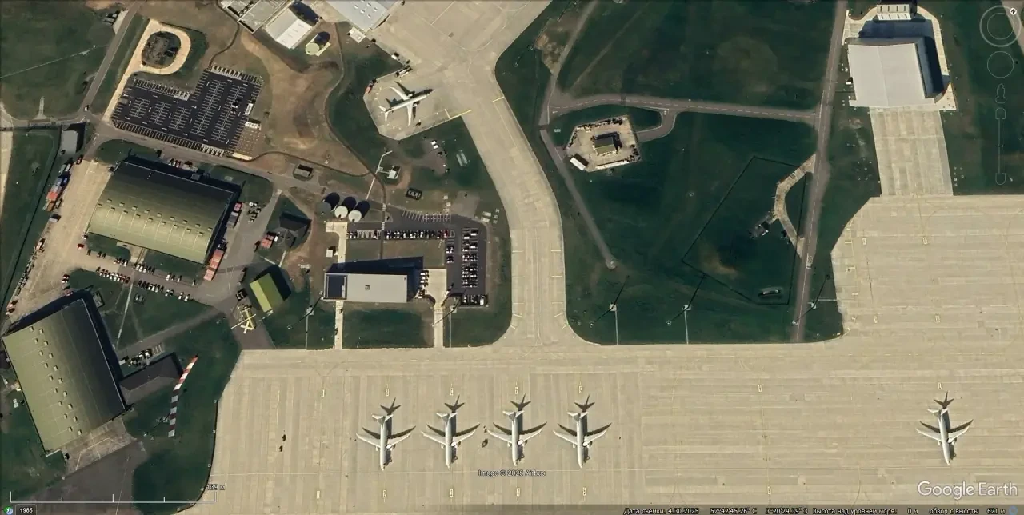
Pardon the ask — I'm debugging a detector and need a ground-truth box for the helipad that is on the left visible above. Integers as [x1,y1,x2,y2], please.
[232,301,275,349]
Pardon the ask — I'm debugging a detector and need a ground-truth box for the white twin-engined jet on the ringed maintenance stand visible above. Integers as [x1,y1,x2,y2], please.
[375,86,431,126]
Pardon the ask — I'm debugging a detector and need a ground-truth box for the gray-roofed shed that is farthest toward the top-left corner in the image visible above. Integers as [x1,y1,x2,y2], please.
[60,128,82,154]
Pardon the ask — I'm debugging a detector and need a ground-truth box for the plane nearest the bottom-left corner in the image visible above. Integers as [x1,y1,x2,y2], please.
[355,413,412,470]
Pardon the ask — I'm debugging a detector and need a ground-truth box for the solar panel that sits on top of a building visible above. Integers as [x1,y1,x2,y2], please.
[326,277,345,298]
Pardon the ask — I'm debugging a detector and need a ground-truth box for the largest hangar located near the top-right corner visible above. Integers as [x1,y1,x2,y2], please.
[848,37,940,106]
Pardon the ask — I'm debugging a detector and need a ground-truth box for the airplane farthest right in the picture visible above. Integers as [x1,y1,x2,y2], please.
[916,406,972,464]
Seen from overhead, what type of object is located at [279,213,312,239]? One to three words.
shed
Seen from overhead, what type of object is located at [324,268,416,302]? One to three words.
building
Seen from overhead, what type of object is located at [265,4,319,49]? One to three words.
hangar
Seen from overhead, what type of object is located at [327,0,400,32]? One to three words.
hangar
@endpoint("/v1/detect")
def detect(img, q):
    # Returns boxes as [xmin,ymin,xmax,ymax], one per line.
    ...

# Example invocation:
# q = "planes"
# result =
[420,411,477,468]
[551,410,608,467]
[355,413,412,470]
[375,86,431,126]
[916,406,972,464]
[487,409,543,466]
